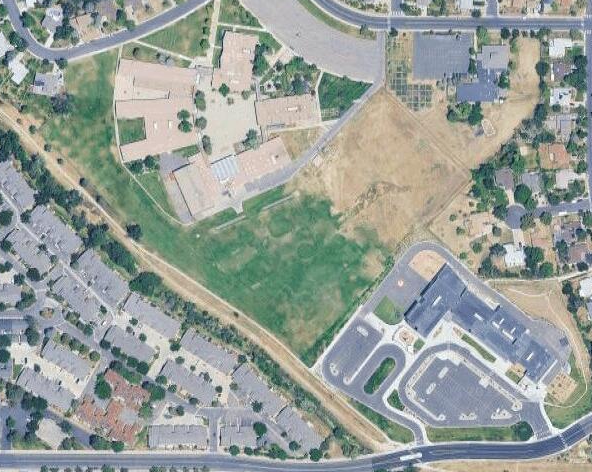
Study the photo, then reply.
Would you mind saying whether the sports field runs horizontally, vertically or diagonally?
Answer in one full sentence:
In this picture, the sports field is oriented diagonally.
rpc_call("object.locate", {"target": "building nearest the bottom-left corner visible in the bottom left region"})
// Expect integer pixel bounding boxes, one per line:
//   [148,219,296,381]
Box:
[34,417,68,450]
